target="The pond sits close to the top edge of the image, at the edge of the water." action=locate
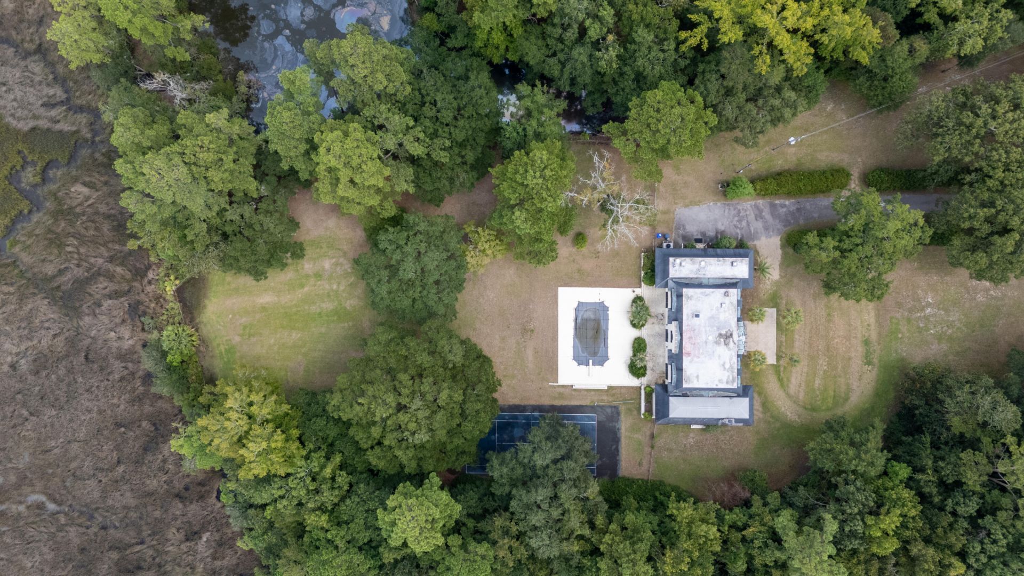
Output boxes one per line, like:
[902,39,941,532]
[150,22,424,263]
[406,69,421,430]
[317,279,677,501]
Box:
[200,0,427,135]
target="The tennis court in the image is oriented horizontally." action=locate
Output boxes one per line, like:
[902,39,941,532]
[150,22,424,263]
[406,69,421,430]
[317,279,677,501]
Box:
[451,404,621,483]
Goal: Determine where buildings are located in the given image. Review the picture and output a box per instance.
[654,248,754,425]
